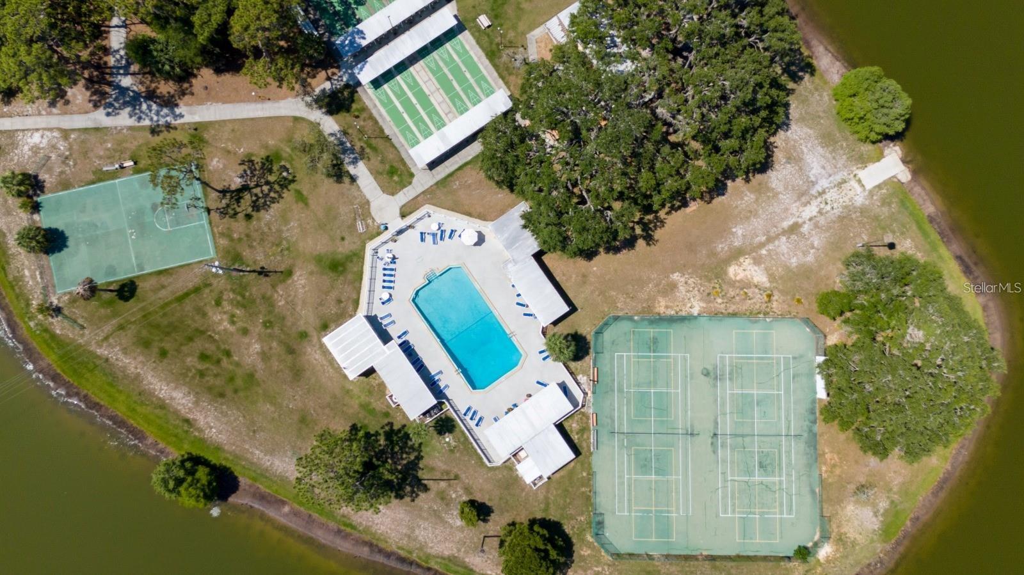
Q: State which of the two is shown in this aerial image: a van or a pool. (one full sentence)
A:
It is a pool that can be seen here.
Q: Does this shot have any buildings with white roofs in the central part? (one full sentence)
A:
Yes, a building with a white roof is visible in the central part.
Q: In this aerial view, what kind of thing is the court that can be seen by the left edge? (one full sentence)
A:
The court that can be seen by the left edge in the image is a basketball court.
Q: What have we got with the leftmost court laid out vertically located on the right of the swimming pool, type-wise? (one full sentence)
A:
The leftmost court laid out vertically located on the right of the swimming pool appears to be a tennis court.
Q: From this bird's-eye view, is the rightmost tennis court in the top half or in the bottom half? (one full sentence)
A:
The bottom half of the photo is where the rightmost tennis court is.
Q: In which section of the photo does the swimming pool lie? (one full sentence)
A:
Look in the center portion of the view to spot the swimming pool.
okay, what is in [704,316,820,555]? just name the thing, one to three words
tennis court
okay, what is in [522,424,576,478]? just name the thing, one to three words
building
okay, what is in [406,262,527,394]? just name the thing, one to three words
swimming pool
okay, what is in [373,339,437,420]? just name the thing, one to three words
building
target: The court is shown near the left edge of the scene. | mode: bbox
[38,161,216,294]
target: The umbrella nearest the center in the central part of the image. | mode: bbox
[461,229,478,246]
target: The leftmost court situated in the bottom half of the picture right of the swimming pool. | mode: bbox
[592,315,706,555]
